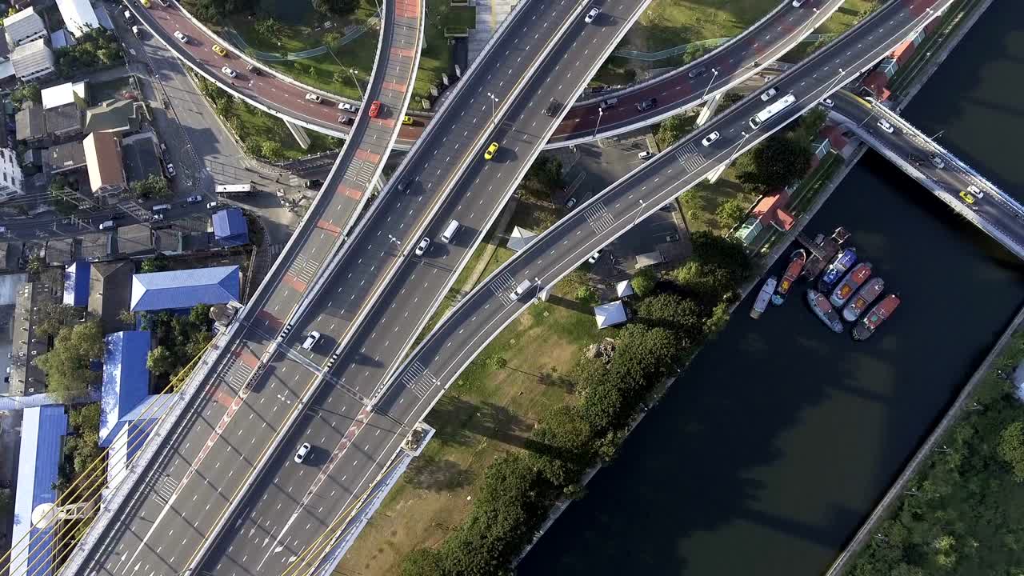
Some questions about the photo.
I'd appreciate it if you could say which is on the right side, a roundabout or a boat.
boat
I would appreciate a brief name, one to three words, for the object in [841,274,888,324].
boat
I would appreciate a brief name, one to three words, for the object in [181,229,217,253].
house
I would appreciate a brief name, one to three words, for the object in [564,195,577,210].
vehicle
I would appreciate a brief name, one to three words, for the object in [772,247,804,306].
boat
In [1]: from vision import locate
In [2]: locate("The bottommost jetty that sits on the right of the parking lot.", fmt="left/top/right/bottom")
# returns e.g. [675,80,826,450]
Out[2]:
[799,229,850,282]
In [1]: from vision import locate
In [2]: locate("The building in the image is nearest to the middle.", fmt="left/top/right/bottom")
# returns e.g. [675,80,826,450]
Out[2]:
[506,225,537,254]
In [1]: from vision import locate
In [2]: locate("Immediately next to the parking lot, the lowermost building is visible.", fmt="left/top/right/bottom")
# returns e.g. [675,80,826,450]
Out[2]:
[594,300,626,330]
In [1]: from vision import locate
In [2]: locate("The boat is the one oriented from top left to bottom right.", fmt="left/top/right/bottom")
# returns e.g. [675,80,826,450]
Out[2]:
[805,286,845,333]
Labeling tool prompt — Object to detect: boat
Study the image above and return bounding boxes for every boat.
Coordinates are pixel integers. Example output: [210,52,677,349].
[841,274,888,324]
[829,260,875,308]
[851,292,904,343]
[750,274,777,320]
[817,245,857,293]
[772,247,804,306]
[805,286,845,333]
